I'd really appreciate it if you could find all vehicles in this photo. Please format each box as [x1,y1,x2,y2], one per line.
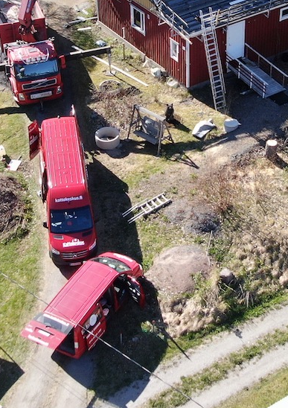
[0,0,114,110]
[20,255,145,352]
[23,113,100,259]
